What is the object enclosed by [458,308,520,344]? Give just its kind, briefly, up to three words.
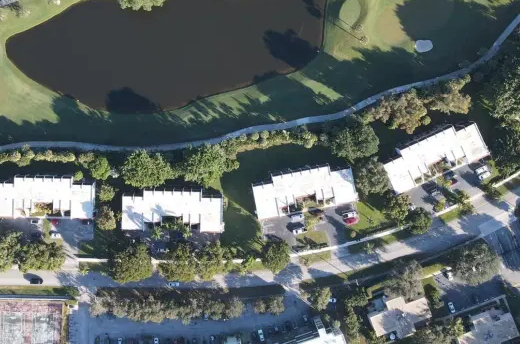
house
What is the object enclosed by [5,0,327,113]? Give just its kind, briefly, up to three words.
pond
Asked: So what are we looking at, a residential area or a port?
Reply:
residential area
